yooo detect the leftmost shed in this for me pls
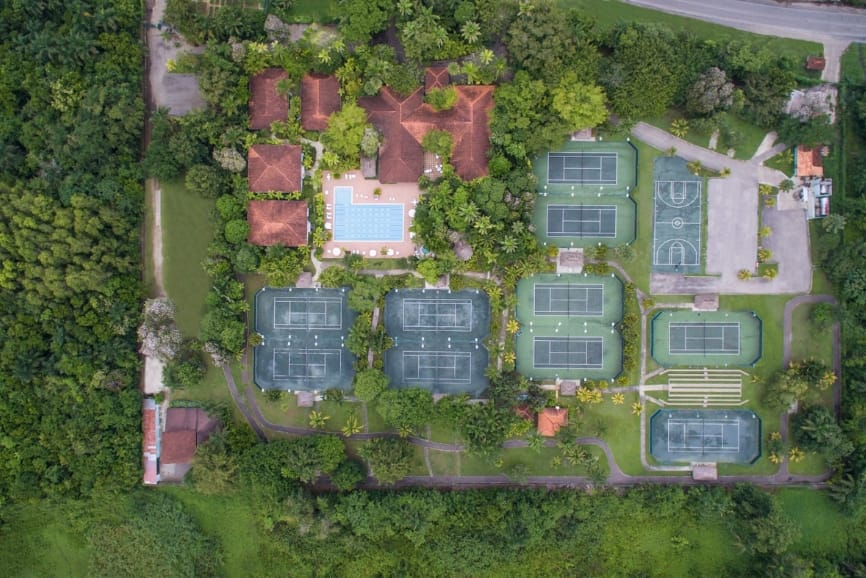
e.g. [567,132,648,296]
[141,399,160,485]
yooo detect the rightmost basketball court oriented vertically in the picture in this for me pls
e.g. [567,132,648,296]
[653,155,702,272]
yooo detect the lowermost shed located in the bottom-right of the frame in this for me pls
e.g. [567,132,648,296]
[689,463,718,480]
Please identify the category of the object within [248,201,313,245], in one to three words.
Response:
building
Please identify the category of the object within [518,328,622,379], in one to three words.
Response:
tennis court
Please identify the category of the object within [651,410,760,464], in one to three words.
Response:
tennis court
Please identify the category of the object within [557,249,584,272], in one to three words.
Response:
shed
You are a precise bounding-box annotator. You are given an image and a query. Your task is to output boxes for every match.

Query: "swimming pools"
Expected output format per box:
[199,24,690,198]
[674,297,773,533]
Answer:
[333,185,404,242]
